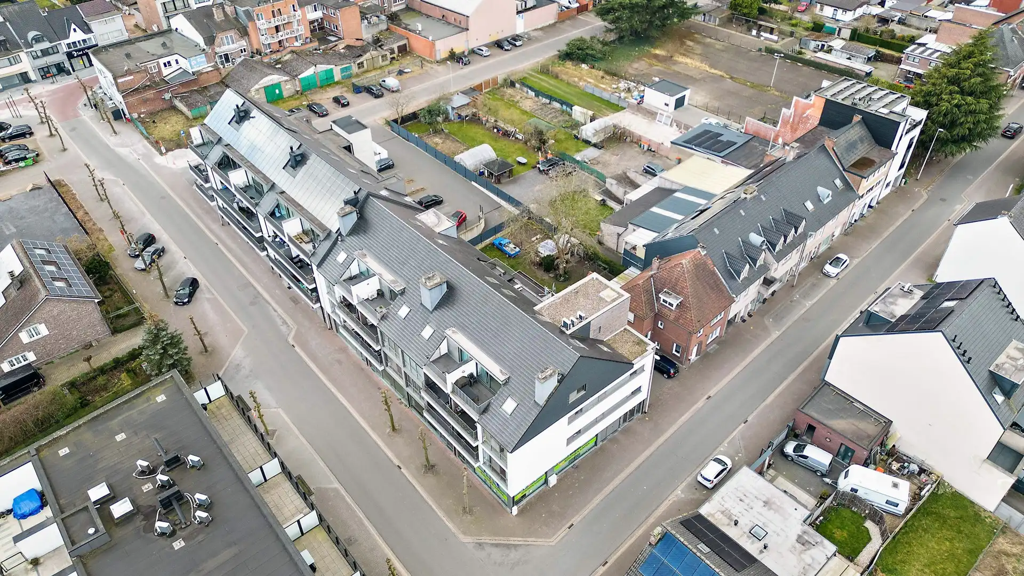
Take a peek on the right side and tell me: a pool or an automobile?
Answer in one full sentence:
There is an automobile on the right side.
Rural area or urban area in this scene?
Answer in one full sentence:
It looks urban.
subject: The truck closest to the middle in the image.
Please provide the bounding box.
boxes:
[490,237,524,258]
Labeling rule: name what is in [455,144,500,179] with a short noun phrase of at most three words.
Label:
greenhouse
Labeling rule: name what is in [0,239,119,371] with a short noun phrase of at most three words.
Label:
house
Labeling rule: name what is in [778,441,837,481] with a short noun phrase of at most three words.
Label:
van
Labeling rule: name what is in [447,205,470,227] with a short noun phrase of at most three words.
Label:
car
